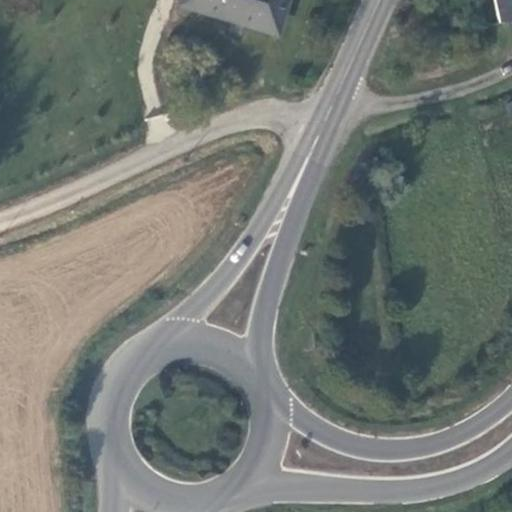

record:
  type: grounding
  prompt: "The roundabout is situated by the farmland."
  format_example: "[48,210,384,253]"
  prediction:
[87,312,291,512]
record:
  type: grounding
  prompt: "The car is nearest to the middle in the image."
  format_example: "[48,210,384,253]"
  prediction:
[231,240,252,260]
